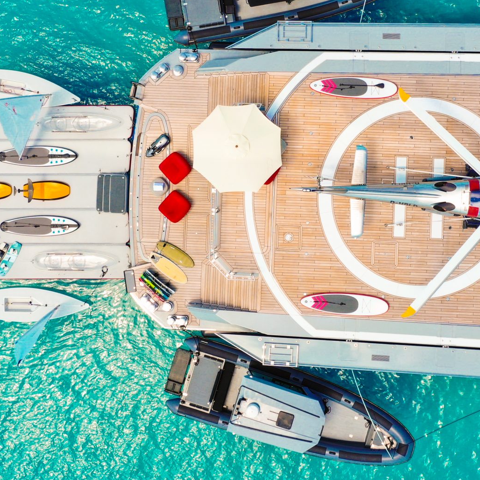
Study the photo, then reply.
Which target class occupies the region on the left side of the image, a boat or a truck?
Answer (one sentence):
Visible on the left side of the image is a boat.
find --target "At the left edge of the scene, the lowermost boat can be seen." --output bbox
[0,288,90,368]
